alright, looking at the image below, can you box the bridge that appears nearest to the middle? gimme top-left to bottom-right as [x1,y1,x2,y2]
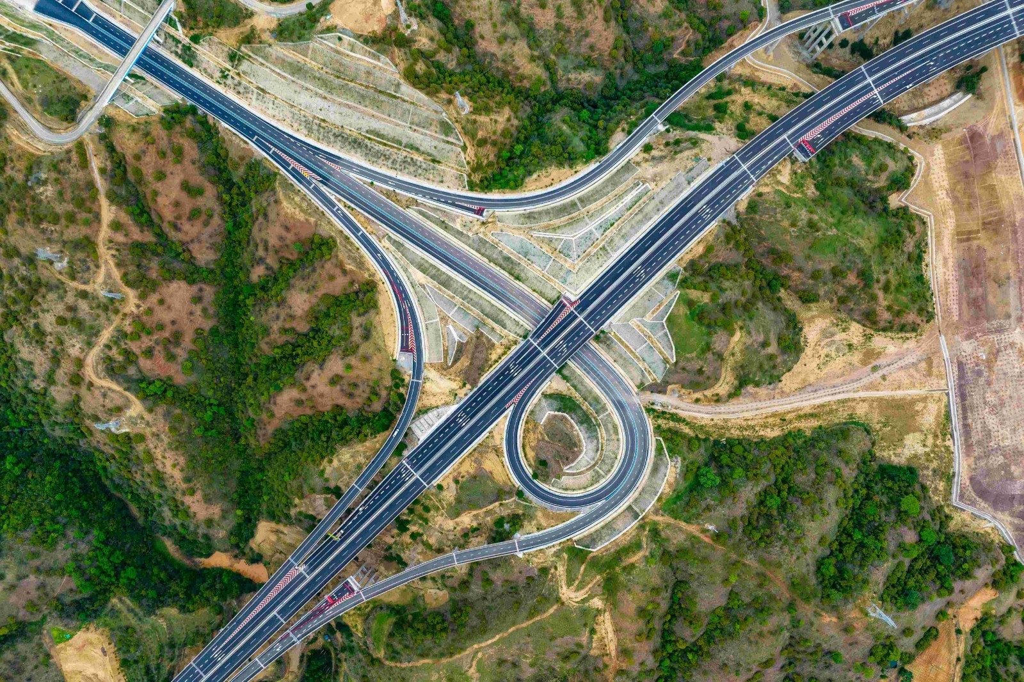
[528,297,595,368]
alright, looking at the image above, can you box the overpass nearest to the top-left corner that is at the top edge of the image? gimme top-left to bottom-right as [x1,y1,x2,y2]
[96,0,176,103]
